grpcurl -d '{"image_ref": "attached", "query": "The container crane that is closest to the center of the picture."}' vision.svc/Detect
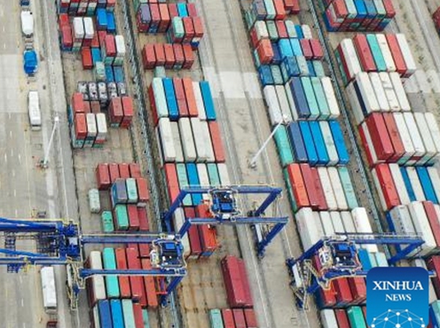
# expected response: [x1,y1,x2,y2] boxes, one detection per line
[159,183,290,254]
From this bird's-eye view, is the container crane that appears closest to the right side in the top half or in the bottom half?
bottom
